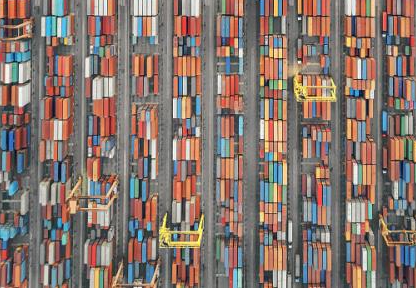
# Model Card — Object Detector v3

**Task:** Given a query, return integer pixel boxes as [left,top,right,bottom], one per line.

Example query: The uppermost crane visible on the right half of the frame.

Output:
[293,74,339,101]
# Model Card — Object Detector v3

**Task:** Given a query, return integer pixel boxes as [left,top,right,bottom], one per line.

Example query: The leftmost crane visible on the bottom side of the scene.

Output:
[68,177,121,212]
